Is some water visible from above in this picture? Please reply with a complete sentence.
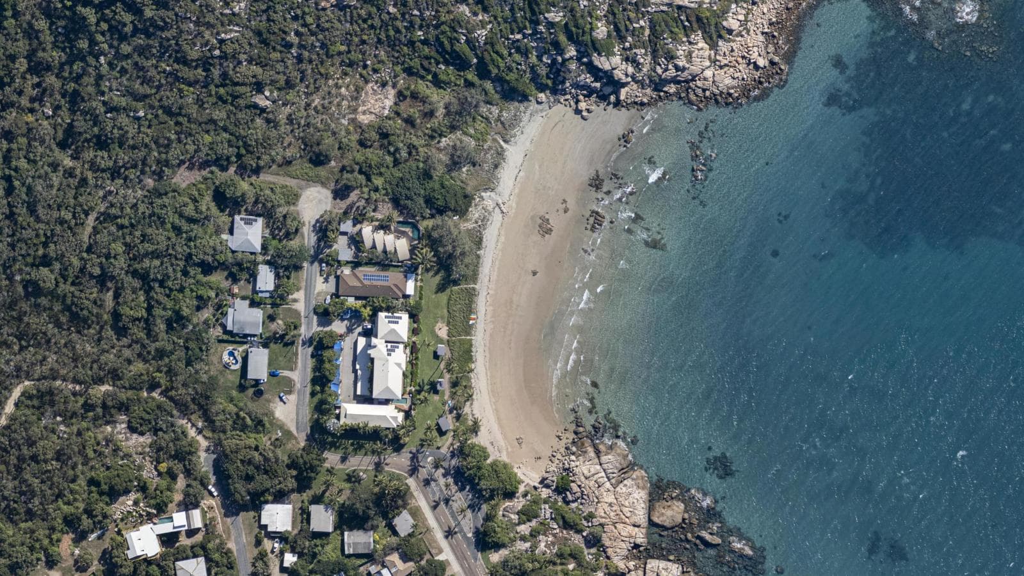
Yes, there is water in the image.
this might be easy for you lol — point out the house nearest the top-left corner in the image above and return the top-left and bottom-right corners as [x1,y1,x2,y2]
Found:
[228,215,263,252]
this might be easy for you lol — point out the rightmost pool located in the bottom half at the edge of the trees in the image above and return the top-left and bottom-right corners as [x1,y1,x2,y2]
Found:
[391,397,409,410]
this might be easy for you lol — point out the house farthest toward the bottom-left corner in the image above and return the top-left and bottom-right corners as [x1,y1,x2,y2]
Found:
[126,524,160,557]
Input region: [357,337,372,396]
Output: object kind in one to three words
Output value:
building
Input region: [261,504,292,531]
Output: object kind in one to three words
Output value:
house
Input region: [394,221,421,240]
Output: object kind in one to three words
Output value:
swimming pool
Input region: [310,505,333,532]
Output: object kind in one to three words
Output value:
house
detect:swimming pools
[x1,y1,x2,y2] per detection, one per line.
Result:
[391,397,409,410]
[222,347,242,369]
[394,221,421,240]
[156,516,173,525]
